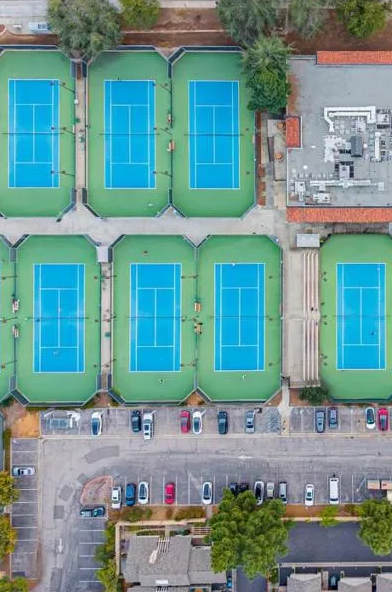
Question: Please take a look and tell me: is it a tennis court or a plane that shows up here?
tennis court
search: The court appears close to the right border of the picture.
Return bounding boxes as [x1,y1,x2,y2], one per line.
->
[320,235,392,399]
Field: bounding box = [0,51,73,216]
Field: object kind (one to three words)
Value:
tennis court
